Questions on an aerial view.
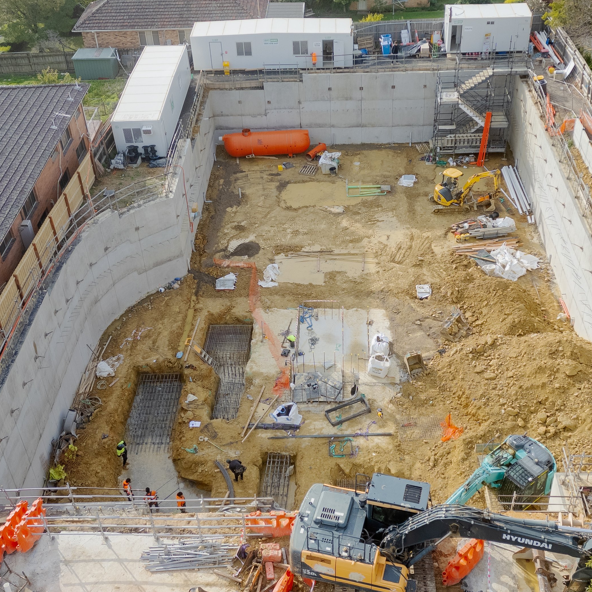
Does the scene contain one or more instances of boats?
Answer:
No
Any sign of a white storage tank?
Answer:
No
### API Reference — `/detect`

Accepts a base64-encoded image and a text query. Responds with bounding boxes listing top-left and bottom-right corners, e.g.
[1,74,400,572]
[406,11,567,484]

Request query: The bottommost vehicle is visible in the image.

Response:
[296,474,592,592]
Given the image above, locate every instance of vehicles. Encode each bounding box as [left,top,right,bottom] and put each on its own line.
[296,474,592,592]
[430,426,554,510]
[424,169,500,214]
